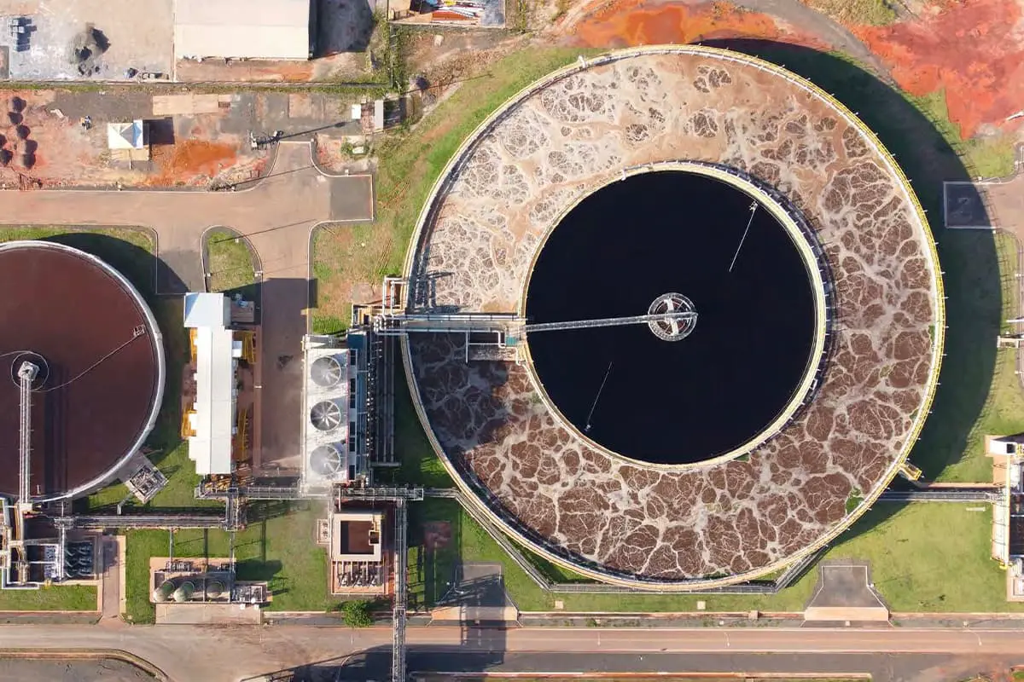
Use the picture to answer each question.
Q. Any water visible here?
Yes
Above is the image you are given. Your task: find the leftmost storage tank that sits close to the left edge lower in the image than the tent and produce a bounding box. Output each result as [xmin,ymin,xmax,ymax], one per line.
[0,238,164,508]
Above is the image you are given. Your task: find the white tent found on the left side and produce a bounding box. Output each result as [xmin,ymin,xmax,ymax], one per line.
[108,120,149,152]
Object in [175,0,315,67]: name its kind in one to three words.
building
